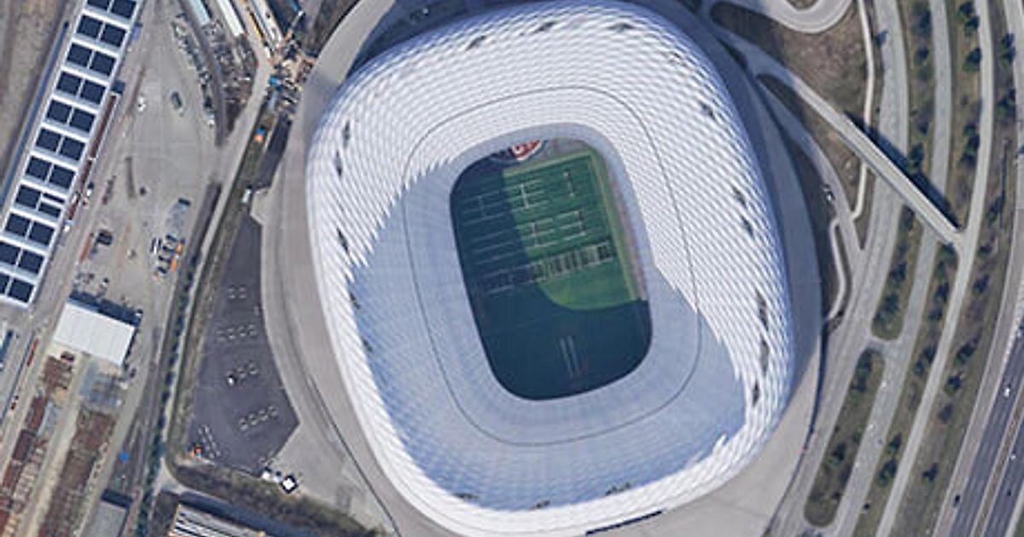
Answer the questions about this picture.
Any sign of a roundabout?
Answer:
No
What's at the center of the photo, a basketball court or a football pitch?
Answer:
football pitch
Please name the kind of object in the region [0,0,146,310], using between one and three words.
building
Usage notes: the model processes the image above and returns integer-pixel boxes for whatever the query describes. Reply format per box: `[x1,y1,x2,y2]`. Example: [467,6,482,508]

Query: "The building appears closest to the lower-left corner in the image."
[83,499,127,537]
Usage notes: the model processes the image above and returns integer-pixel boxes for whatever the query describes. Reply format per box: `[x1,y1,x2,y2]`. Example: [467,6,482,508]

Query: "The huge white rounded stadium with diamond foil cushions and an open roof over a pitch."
[304,0,798,537]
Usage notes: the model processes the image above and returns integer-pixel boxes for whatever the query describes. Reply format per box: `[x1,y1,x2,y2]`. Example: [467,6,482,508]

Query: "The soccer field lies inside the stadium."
[451,144,649,398]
